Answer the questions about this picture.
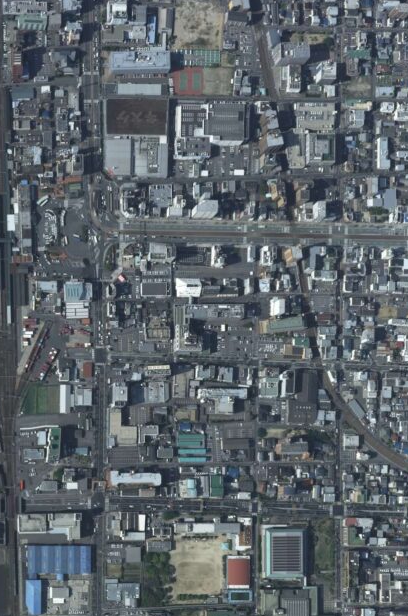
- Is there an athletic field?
Yes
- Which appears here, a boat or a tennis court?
tennis court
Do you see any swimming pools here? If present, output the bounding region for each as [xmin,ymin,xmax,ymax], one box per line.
[228,590,252,603]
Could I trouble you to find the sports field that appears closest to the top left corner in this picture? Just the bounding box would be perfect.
[171,0,223,49]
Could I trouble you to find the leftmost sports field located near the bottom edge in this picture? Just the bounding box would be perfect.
[170,536,208,605]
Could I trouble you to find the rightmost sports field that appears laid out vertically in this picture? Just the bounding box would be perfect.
[208,536,233,594]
